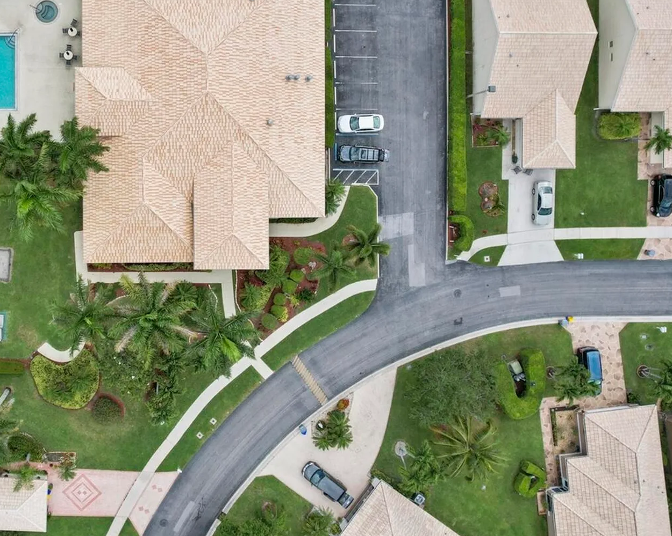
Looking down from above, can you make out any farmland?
No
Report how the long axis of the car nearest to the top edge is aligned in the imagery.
from side to side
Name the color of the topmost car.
white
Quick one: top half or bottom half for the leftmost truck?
bottom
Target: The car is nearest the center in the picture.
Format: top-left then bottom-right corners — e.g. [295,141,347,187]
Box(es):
[336,143,385,165]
